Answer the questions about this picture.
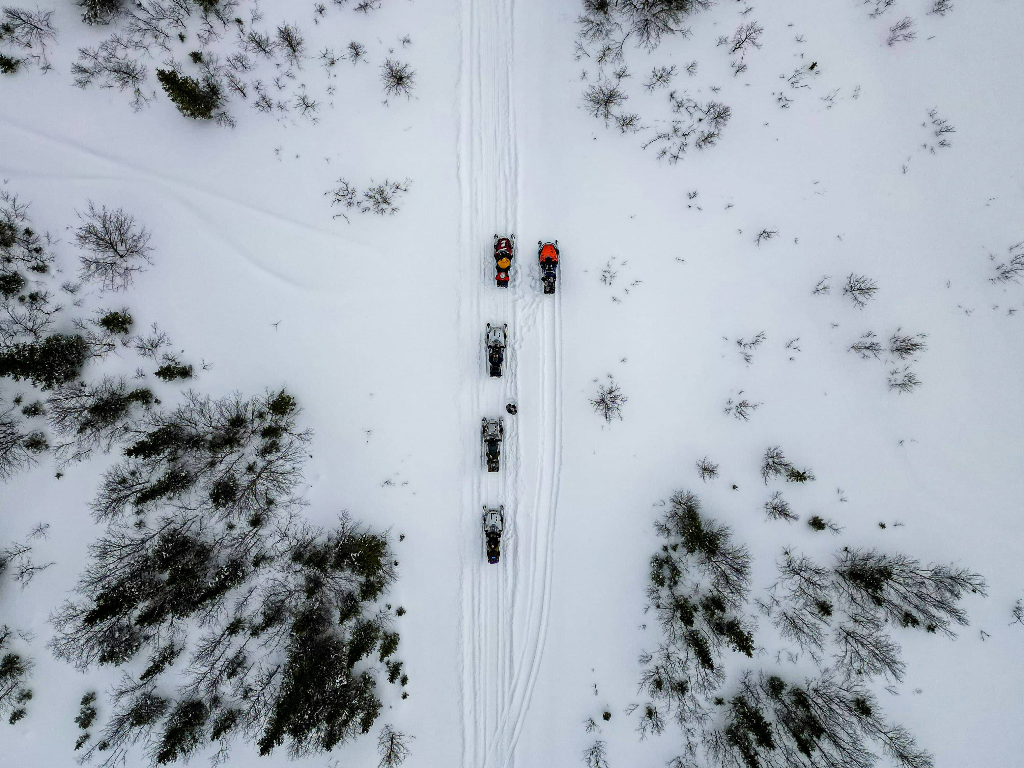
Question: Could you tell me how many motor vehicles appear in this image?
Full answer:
I count 5 motor vehicles.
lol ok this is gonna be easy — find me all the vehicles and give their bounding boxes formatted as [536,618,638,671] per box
[538,239,560,295]
[483,505,503,561]
[483,416,503,473]
[493,233,514,289]
[486,322,507,378]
